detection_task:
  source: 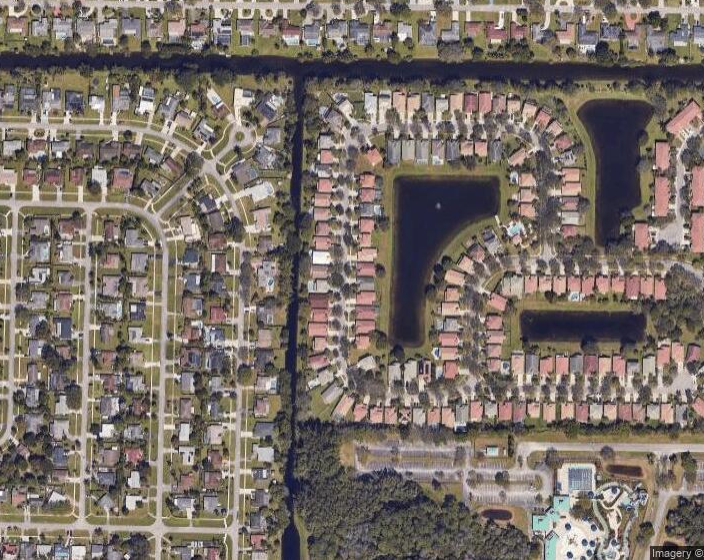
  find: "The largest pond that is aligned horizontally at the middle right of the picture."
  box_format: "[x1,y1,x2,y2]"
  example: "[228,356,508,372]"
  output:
[521,311,646,341]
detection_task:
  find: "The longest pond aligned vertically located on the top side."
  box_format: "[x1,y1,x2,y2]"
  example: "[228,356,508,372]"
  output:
[580,99,650,245]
